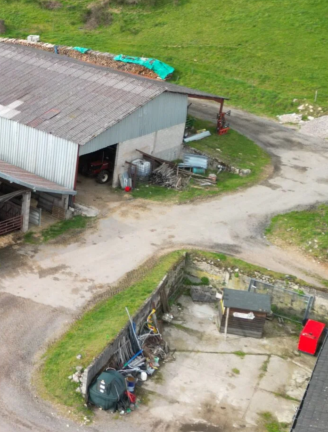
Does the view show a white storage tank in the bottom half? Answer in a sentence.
No, looking in the bottom half, there is no white storage tank.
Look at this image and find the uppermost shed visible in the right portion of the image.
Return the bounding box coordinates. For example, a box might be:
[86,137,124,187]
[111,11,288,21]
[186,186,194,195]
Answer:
[218,289,270,338]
